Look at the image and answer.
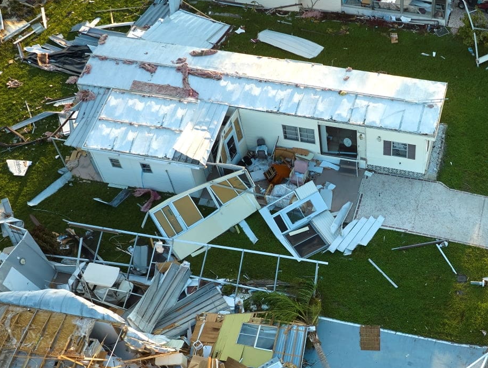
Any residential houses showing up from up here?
Yes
